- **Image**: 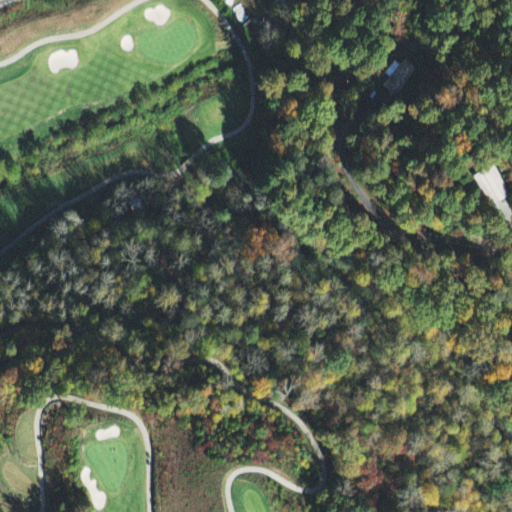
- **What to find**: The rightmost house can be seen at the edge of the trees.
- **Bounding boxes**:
[474,166,505,202]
